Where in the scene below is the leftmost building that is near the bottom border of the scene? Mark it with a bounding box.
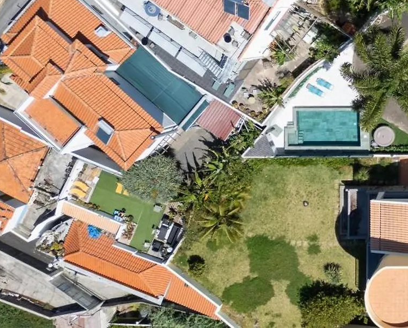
[60,197,249,328]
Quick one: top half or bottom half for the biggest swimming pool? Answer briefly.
top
